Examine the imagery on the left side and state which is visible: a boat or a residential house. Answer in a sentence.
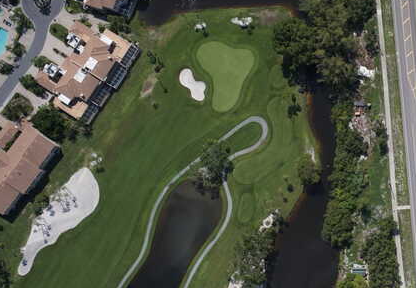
What appears on the left side is a residential house.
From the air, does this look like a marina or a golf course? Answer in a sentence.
This image shows a golf course.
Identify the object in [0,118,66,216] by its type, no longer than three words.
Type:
house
